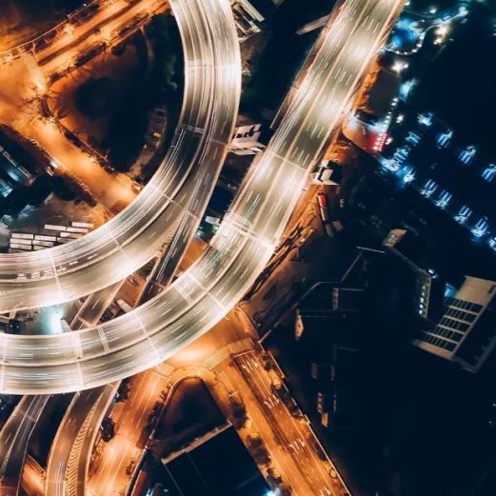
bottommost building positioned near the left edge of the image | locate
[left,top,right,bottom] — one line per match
[7,194,48,234]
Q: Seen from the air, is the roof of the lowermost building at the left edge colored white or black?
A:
black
